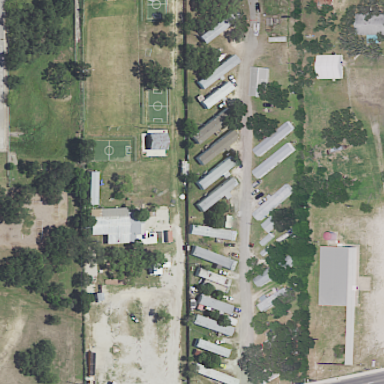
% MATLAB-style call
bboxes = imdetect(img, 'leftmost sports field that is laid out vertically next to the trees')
[84,0,138,136]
